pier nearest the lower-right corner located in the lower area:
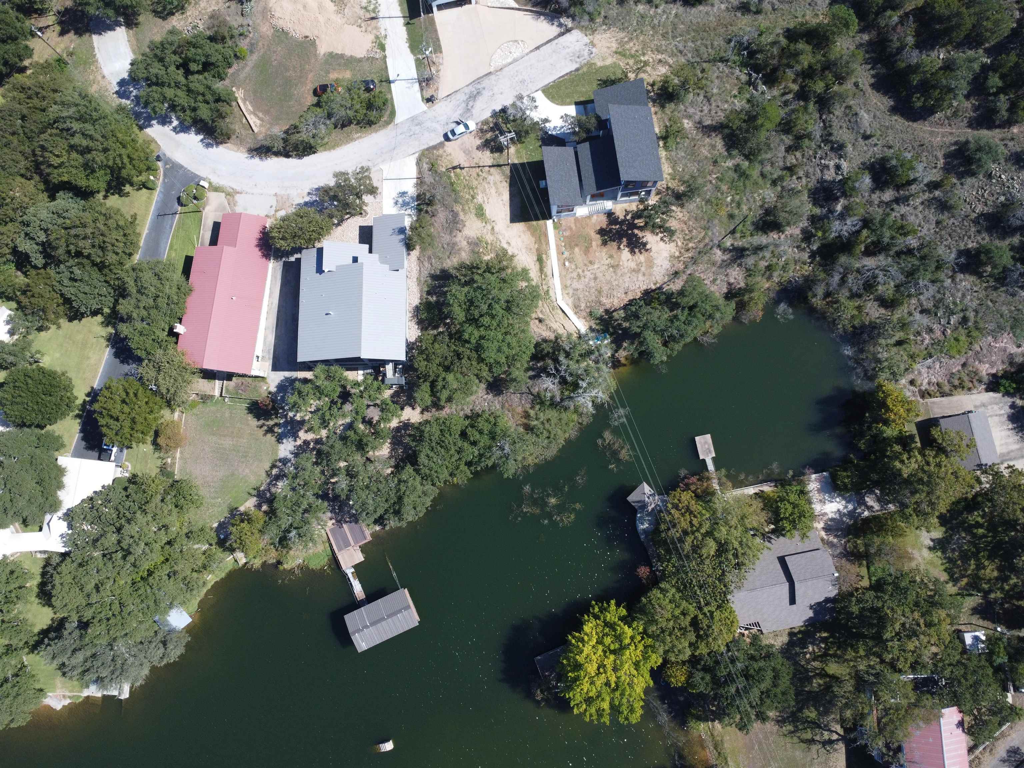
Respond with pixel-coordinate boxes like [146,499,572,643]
[695,434,724,497]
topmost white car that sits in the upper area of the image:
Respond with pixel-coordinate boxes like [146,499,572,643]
[445,119,475,140]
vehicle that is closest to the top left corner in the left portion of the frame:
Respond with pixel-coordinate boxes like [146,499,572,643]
[315,81,340,96]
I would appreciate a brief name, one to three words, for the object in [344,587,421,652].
building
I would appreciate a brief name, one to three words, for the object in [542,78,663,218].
house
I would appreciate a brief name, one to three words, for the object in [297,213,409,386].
house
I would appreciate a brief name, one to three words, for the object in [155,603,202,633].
shed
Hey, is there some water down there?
Yes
